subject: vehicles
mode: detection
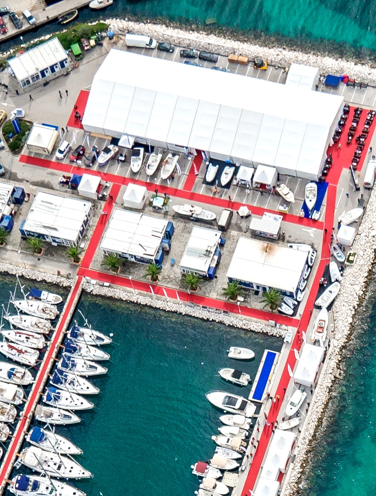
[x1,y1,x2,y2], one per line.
[197,49,219,63]
[69,142,85,161]
[184,58,202,66]
[84,145,101,166]
[155,42,176,53]
[20,7,37,25]
[218,206,230,231]
[0,136,6,150]
[0,15,8,33]
[56,139,70,158]
[210,64,227,72]
[125,32,158,49]
[179,49,198,59]
[6,9,24,28]
[253,57,267,69]
[0,5,11,15]
[363,159,376,189]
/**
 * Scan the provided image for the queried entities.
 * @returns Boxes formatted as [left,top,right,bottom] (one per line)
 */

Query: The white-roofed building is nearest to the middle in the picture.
[180,227,222,276]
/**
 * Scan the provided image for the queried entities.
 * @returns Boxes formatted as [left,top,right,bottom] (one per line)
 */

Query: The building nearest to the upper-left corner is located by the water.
[7,37,69,87]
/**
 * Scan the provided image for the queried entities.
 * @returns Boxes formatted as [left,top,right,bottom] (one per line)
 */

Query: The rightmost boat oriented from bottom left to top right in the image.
[337,208,363,225]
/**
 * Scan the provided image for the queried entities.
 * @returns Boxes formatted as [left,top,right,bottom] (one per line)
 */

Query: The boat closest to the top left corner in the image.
[56,9,78,25]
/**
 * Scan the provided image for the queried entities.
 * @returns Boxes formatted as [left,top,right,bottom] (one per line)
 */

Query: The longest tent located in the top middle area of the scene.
[82,49,344,180]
